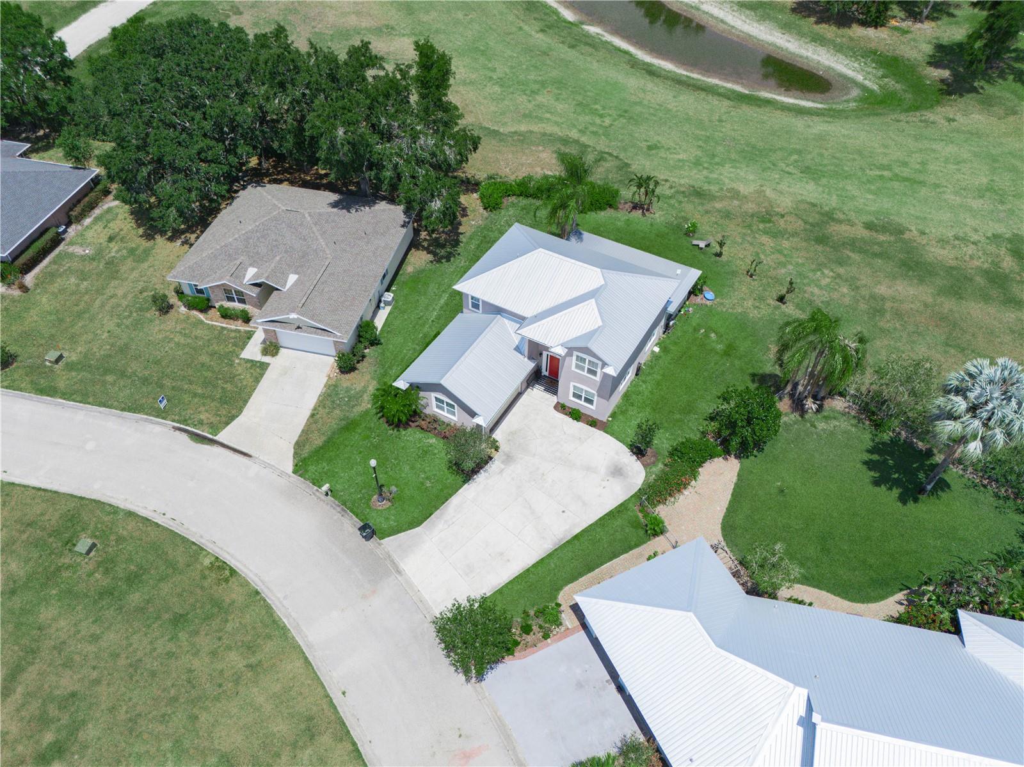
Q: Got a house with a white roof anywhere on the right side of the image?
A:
Yes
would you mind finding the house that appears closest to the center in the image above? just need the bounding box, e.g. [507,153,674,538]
[390,222,700,442]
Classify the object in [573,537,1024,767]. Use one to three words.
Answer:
house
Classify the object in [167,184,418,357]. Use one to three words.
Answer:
house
